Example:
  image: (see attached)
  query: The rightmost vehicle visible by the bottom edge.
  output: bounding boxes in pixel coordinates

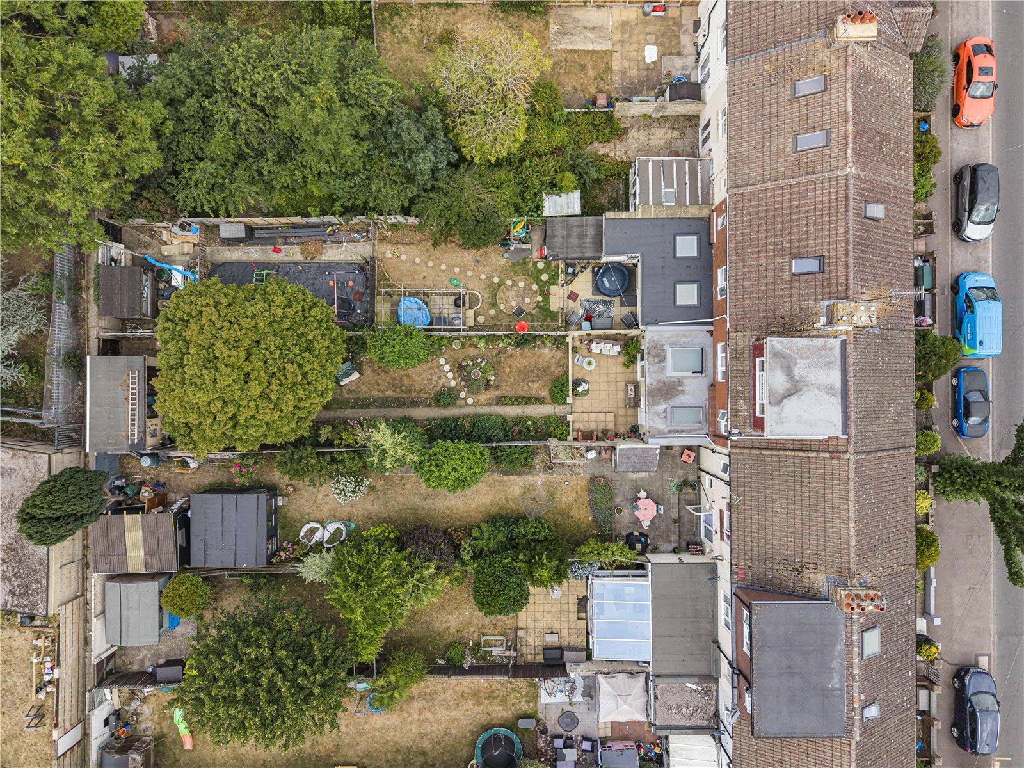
[950,663,1005,757]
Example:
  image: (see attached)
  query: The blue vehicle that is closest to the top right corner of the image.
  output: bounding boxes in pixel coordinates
[953,269,1012,361]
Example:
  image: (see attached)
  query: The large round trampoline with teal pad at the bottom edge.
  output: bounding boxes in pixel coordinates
[473,722,525,768]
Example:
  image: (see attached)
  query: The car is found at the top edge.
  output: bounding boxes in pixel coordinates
[951,36,1004,129]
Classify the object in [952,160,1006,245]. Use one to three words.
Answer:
car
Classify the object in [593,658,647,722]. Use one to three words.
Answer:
gazebo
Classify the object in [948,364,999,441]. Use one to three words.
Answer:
car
